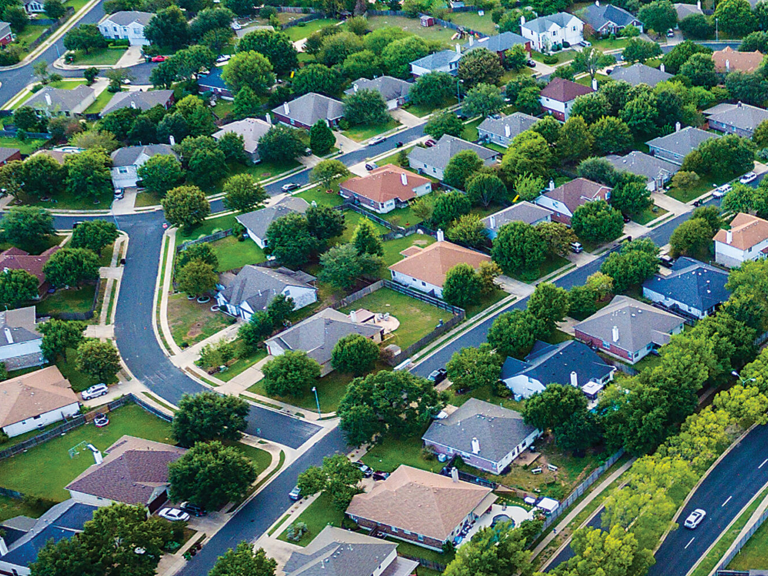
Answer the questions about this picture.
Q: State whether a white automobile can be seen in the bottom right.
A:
Yes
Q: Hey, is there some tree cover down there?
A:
Yes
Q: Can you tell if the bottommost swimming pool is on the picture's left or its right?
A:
right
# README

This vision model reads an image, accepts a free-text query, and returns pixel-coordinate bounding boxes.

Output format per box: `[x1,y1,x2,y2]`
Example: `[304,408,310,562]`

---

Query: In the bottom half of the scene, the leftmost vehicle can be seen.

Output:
[81,382,110,400]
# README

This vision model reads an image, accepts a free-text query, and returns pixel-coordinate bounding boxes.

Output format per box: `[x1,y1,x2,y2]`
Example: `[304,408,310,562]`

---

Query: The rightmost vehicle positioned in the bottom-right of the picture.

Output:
[684,508,705,529]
